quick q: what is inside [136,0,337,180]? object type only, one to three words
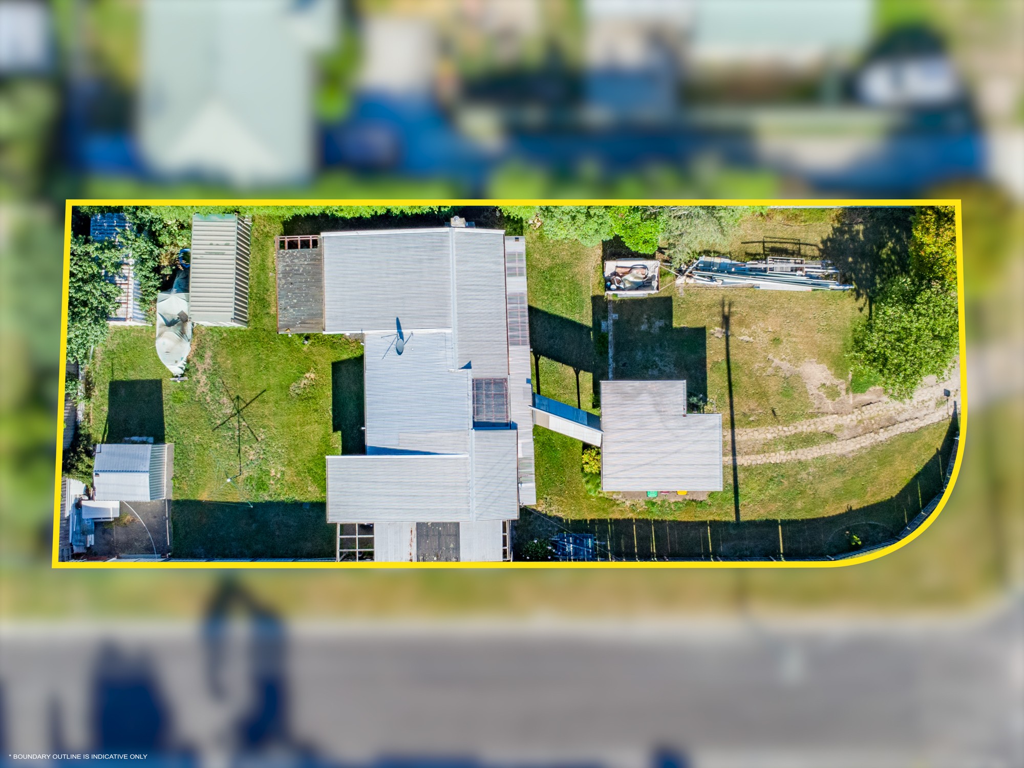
house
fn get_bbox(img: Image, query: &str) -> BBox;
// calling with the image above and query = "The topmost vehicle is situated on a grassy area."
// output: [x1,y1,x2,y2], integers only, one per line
[859,60,962,107]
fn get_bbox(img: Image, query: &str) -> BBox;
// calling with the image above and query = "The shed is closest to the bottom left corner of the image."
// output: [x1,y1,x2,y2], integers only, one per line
[93,443,167,501]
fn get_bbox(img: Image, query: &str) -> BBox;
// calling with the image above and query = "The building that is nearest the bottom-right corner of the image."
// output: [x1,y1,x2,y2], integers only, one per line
[598,380,723,492]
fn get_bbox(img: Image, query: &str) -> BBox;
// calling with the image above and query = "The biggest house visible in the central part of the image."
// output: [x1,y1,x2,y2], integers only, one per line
[276,217,536,568]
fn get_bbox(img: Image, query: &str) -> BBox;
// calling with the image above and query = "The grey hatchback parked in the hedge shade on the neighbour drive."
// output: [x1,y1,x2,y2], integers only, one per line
[336,126,409,171]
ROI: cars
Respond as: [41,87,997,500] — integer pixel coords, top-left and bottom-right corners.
[336,126,409,171]
[859,60,962,107]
